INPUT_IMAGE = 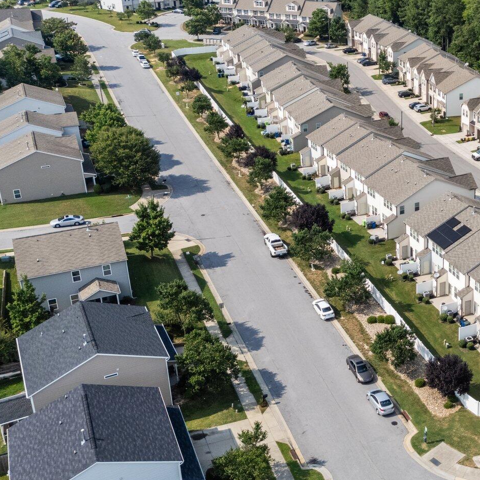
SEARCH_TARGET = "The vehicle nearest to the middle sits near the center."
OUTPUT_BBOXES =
[264,233,288,254]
